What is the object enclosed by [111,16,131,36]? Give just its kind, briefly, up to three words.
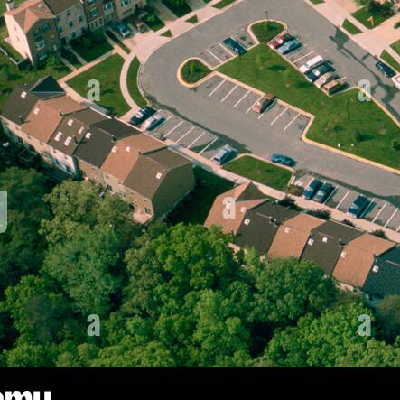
car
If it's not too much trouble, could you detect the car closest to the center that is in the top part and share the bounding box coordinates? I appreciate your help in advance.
[212,142,237,163]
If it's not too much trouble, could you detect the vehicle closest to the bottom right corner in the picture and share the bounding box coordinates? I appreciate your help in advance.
[347,193,369,214]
